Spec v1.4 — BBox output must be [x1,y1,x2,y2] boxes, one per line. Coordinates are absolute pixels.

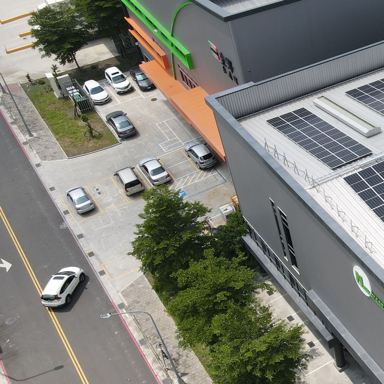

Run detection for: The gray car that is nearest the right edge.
[182,139,215,169]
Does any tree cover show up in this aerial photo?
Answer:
Yes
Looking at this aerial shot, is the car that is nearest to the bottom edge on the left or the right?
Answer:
left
